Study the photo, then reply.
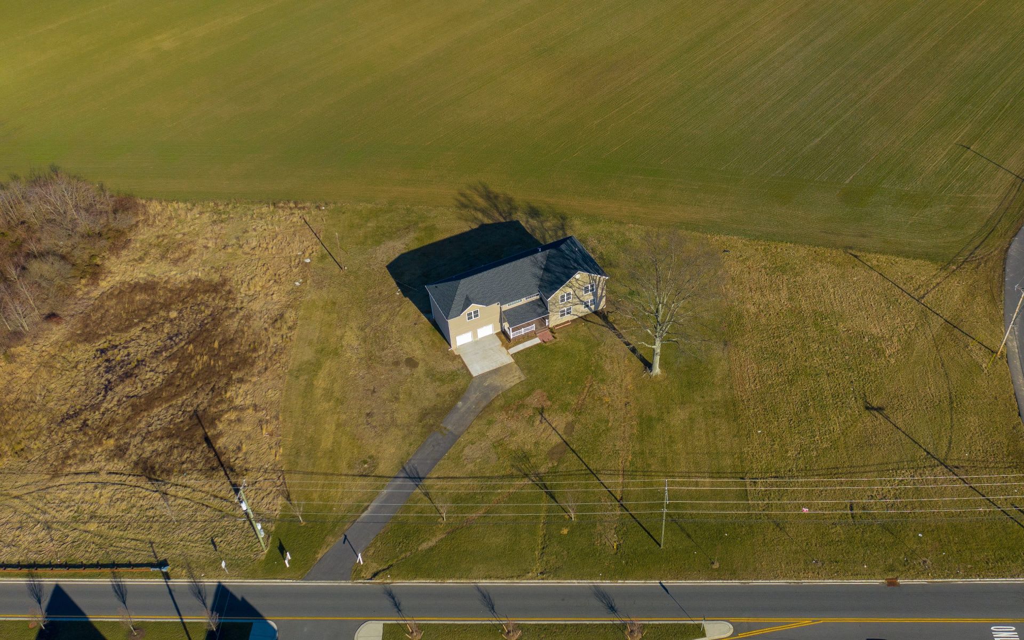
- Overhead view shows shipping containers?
No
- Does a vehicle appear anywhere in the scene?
No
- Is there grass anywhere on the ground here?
Yes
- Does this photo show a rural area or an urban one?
rural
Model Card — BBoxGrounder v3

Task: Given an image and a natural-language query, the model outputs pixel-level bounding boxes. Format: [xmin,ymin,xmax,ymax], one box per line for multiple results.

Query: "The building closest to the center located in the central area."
[425,235,610,352]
